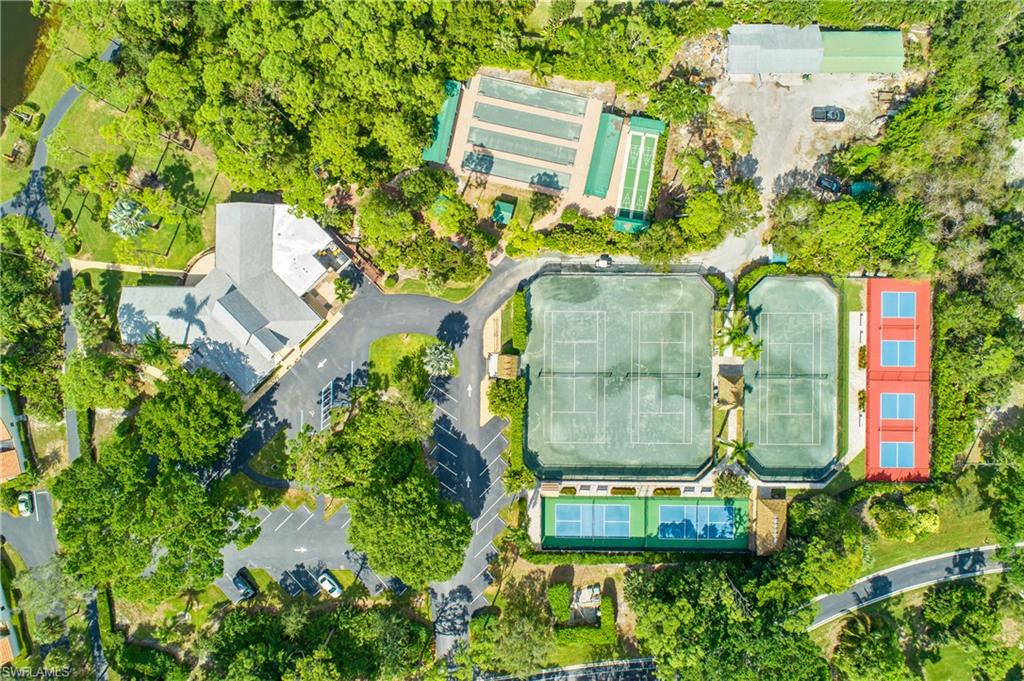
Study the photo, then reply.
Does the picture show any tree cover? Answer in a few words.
Yes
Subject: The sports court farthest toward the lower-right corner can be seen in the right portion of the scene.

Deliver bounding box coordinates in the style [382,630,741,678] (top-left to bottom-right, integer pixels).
[866,380,931,481]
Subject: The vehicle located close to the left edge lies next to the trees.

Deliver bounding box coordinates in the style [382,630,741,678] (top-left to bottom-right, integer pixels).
[19,491,35,517]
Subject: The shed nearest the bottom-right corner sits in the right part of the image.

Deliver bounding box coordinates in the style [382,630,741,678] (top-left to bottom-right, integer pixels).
[754,497,789,556]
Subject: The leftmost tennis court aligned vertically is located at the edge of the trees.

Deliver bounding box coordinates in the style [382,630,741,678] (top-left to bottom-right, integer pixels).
[525,274,619,479]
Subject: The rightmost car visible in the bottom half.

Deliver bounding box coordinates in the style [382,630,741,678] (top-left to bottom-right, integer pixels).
[318,572,342,597]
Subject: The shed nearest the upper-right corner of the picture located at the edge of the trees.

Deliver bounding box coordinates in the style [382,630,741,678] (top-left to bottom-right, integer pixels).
[821,31,903,73]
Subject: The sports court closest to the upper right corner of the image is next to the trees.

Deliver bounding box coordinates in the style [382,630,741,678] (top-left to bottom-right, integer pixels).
[867,278,931,380]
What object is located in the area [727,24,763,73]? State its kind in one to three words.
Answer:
shed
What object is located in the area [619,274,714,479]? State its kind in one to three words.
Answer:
tennis court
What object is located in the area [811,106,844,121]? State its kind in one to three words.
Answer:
vehicle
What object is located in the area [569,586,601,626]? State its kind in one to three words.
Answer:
building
